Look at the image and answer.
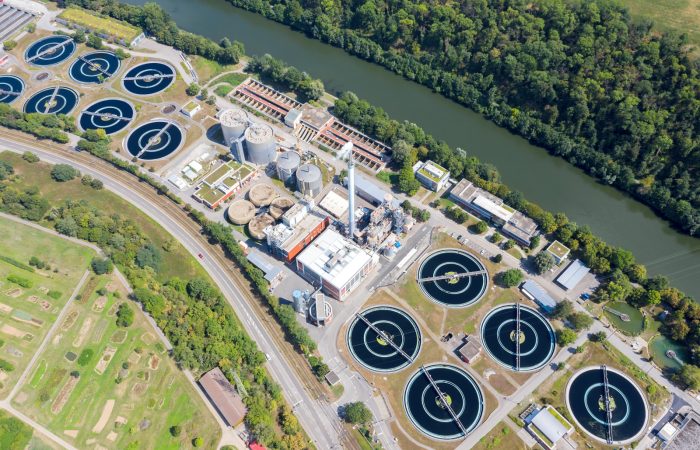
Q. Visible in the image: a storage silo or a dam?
storage silo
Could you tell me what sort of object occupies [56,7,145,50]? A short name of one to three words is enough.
building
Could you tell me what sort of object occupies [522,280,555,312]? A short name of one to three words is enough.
shed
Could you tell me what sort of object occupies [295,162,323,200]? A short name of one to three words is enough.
silo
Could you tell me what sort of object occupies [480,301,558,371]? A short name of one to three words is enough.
storage tank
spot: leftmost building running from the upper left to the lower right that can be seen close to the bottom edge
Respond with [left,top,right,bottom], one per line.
[199,367,247,428]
